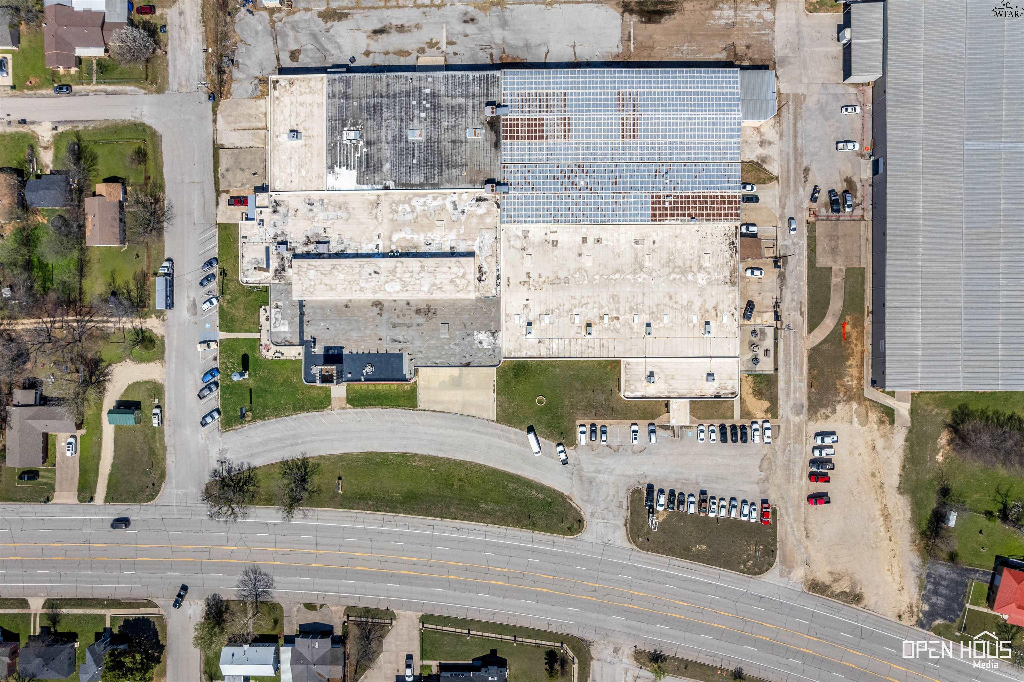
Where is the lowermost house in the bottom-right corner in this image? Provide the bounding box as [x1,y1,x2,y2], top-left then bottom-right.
[983,555,1024,623]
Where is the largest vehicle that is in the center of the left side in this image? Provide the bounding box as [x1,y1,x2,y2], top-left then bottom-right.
[156,260,172,309]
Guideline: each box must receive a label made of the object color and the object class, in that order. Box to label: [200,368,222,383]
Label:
blue vehicle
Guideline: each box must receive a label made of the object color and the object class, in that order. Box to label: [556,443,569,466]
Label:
white vehicle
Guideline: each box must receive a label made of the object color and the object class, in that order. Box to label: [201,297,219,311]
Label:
white car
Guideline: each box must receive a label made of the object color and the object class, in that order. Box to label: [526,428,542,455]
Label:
white vehicle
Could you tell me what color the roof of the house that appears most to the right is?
red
